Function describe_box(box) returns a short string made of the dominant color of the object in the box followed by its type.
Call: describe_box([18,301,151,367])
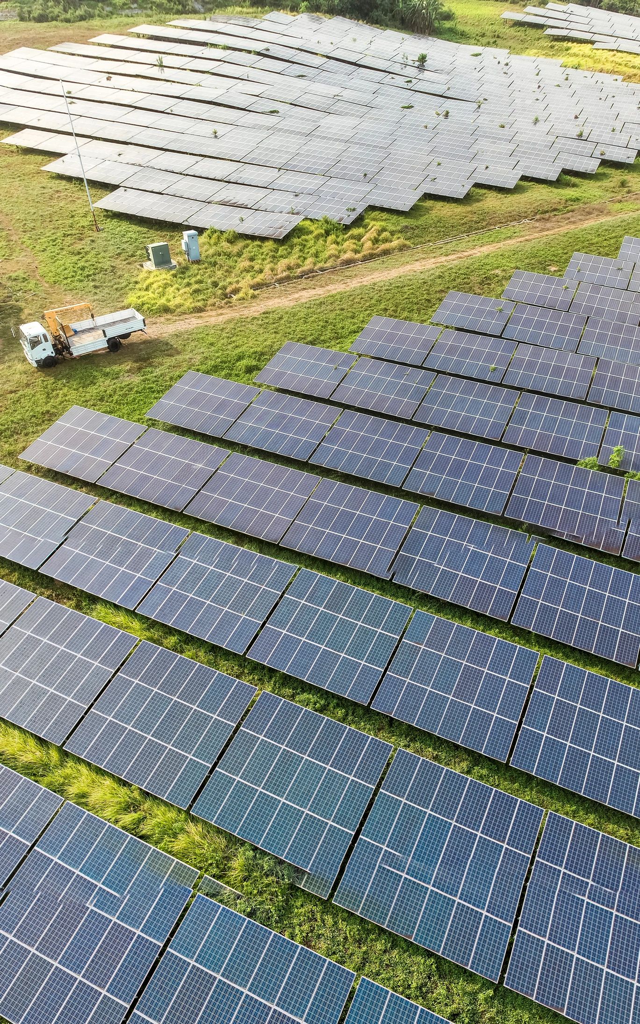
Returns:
white truck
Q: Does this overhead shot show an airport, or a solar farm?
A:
solar farm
